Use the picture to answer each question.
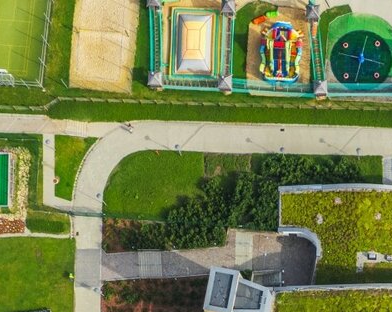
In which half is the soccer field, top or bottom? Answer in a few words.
top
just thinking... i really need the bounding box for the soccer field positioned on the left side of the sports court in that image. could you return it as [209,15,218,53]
[0,0,51,87]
